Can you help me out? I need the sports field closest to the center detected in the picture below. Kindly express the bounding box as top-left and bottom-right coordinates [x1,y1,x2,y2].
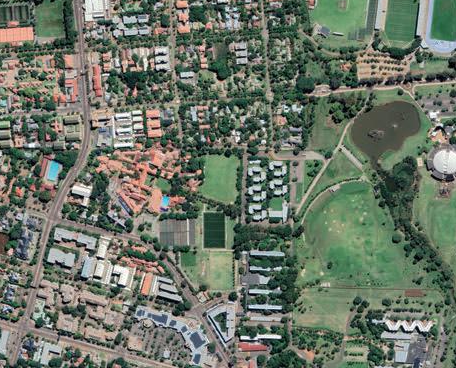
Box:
[202,154,239,203]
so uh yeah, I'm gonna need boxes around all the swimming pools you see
[45,158,62,183]
[162,196,170,206]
